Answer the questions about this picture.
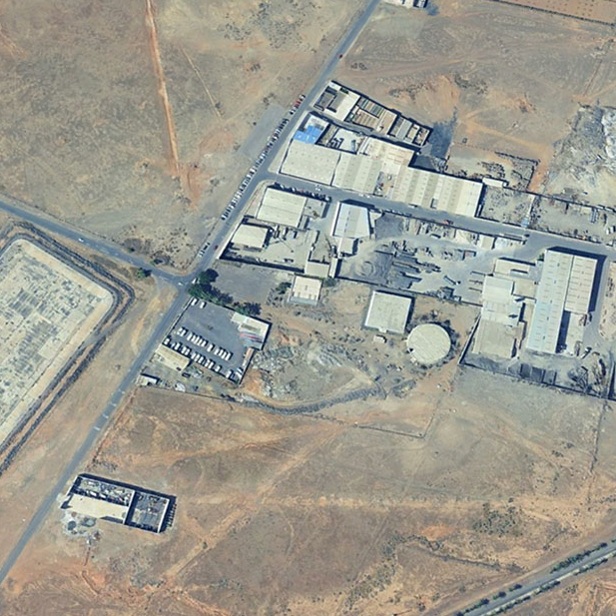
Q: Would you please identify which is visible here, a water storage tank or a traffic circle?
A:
water storage tank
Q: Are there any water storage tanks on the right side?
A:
Yes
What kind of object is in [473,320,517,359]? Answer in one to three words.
building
